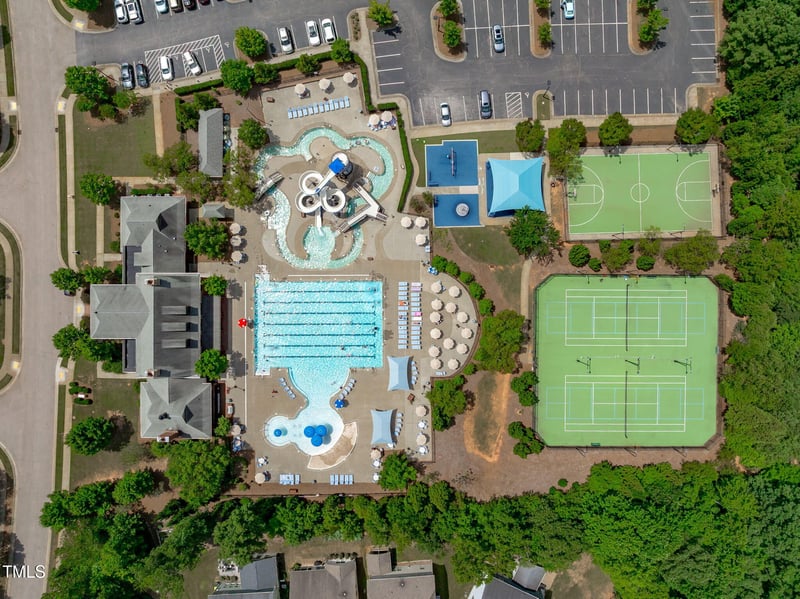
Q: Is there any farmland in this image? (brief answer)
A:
No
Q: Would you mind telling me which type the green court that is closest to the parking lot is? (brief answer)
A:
basketball court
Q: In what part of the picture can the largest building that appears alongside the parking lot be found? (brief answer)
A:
left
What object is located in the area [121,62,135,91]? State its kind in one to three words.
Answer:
car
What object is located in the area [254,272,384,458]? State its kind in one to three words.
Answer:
swimming pool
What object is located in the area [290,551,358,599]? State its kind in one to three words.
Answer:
house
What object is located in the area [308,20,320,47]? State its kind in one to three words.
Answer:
vehicle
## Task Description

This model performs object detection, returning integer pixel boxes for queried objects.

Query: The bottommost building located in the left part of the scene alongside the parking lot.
[89,197,226,444]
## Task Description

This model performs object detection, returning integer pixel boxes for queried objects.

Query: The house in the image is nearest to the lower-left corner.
[208,547,282,599]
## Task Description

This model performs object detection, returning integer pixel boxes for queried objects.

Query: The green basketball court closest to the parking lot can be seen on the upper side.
[565,147,723,240]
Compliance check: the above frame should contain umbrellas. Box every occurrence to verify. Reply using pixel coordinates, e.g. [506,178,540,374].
[255,472,266,482]
[416,406,426,416]
[402,217,411,227]
[430,346,440,356]
[445,302,455,312]
[370,116,379,126]
[430,282,441,292]
[457,344,467,354]
[444,338,453,348]
[416,434,426,444]
[458,312,468,322]
[430,312,441,322]
[231,425,241,434]
[344,73,354,84]
[416,235,426,244]
[230,223,241,234]
[295,84,305,94]
[432,359,441,369]
[431,329,441,338]
[232,251,242,262]
[371,449,381,459]
[231,237,241,246]
[432,299,441,309]
[449,287,459,297]
[320,80,330,90]
[416,217,425,227]
[381,112,391,122]
[448,358,459,368]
